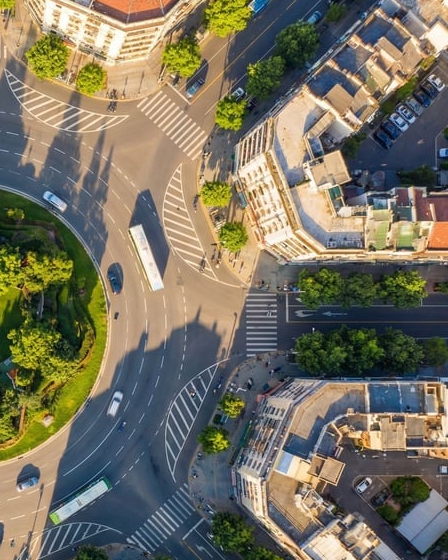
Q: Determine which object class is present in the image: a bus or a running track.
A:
bus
